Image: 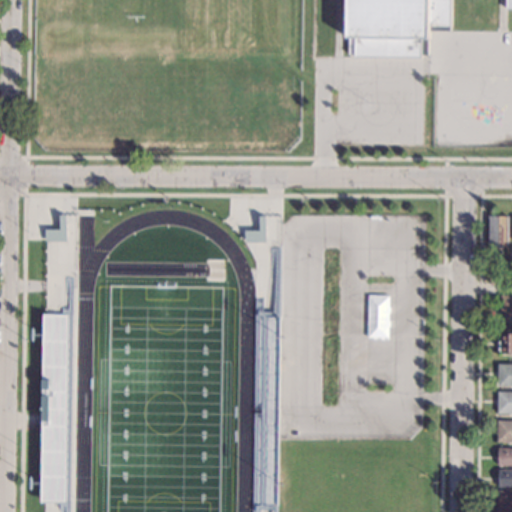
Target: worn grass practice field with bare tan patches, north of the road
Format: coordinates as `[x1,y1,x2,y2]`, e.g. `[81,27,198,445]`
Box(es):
[37,0,302,150]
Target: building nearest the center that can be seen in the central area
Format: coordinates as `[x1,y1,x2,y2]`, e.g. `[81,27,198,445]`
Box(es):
[244,216,268,242]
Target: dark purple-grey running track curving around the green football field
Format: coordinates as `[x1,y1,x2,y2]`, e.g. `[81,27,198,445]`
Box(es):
[77,210,256,512]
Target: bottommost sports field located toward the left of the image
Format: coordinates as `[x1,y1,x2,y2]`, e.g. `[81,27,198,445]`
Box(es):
[92,225,242,512]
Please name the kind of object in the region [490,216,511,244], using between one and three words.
house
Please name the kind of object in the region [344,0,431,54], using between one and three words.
building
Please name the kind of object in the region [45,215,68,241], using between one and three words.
building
